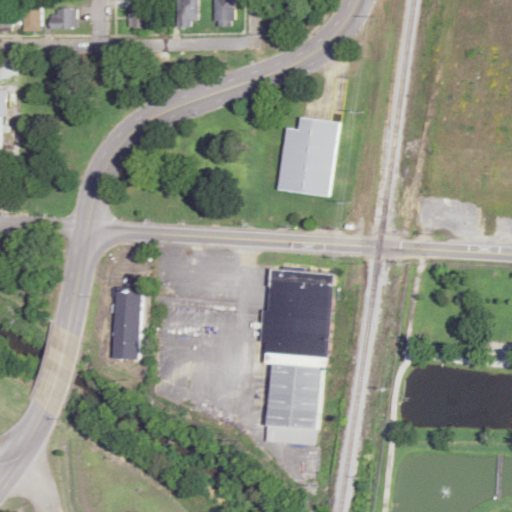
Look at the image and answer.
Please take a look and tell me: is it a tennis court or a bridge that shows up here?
bridge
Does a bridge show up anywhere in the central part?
No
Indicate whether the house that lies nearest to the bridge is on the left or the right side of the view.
left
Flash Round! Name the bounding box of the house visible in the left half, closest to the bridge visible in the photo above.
[110,288,146,361]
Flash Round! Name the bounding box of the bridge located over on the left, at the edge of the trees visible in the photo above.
[22,321,85,426]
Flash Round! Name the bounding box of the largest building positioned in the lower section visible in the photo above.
[262,266,333,448]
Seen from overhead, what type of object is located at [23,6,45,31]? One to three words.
house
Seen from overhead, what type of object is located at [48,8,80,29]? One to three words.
house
